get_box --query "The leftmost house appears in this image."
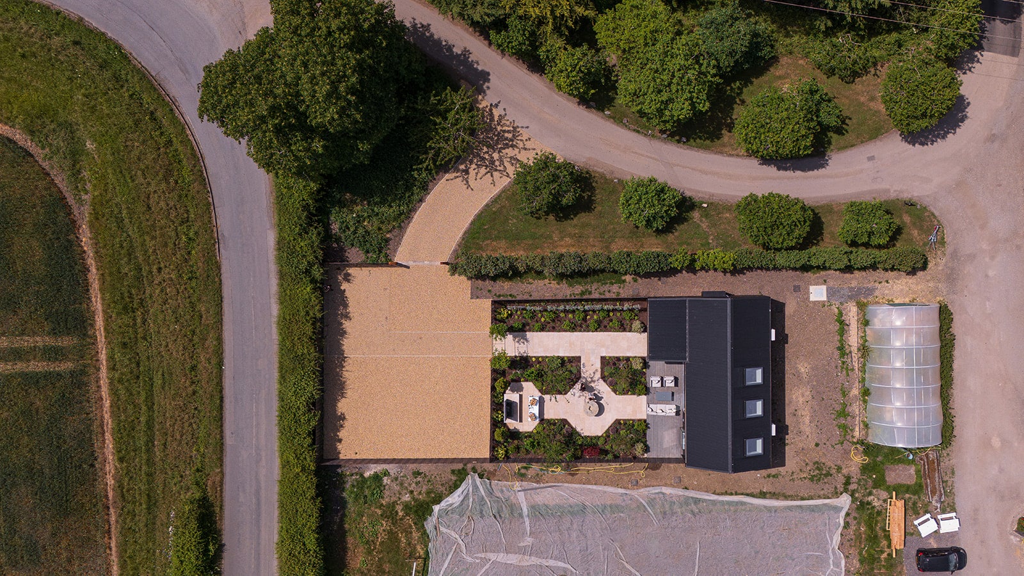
[644,289,777,475]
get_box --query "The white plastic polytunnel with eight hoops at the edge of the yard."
[866,305,941,446]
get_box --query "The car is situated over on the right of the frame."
[913,544,965,574]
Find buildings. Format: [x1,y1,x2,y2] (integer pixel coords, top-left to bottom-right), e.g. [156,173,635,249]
[866,305,941,446]
[644,289,777,475]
